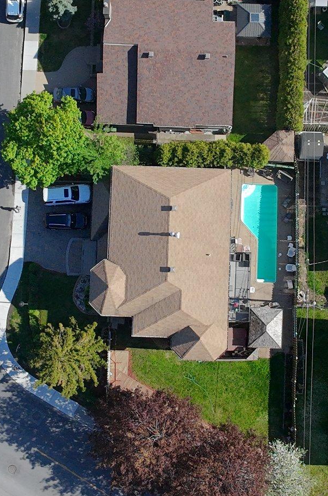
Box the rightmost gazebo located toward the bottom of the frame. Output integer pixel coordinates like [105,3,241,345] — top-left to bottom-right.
[247,307,284,349]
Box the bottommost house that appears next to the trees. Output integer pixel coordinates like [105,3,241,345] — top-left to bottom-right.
[89,166,231,362]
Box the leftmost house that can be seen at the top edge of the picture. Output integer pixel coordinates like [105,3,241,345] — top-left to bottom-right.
[96,0,236,139]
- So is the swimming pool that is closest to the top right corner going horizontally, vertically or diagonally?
vertically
